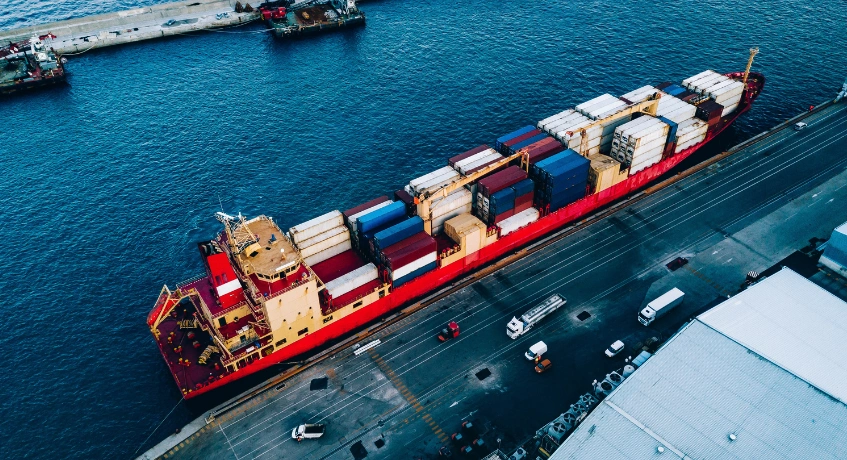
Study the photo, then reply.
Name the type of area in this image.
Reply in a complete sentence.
The picture captures a port.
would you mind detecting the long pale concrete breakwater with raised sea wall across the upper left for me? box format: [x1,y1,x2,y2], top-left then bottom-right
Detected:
[0,0,356,66]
